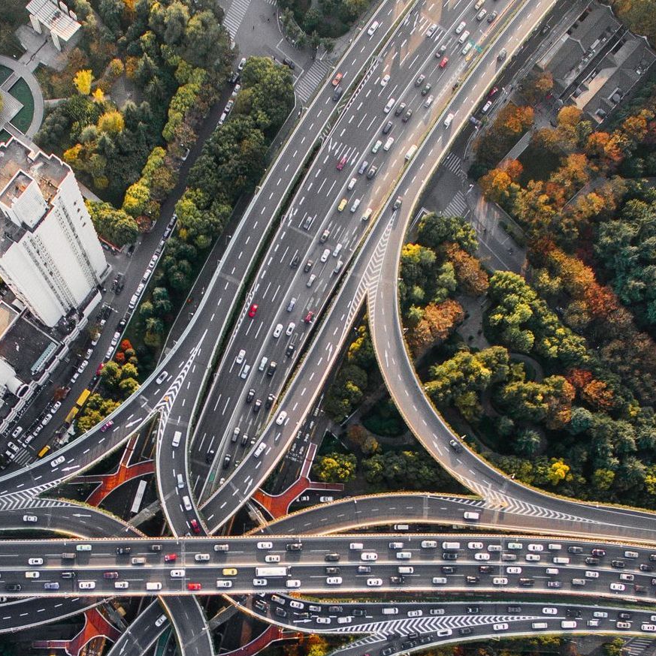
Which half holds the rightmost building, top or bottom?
top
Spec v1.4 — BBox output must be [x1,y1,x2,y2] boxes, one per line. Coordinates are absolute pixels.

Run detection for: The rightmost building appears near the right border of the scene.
[611,31,656,77]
